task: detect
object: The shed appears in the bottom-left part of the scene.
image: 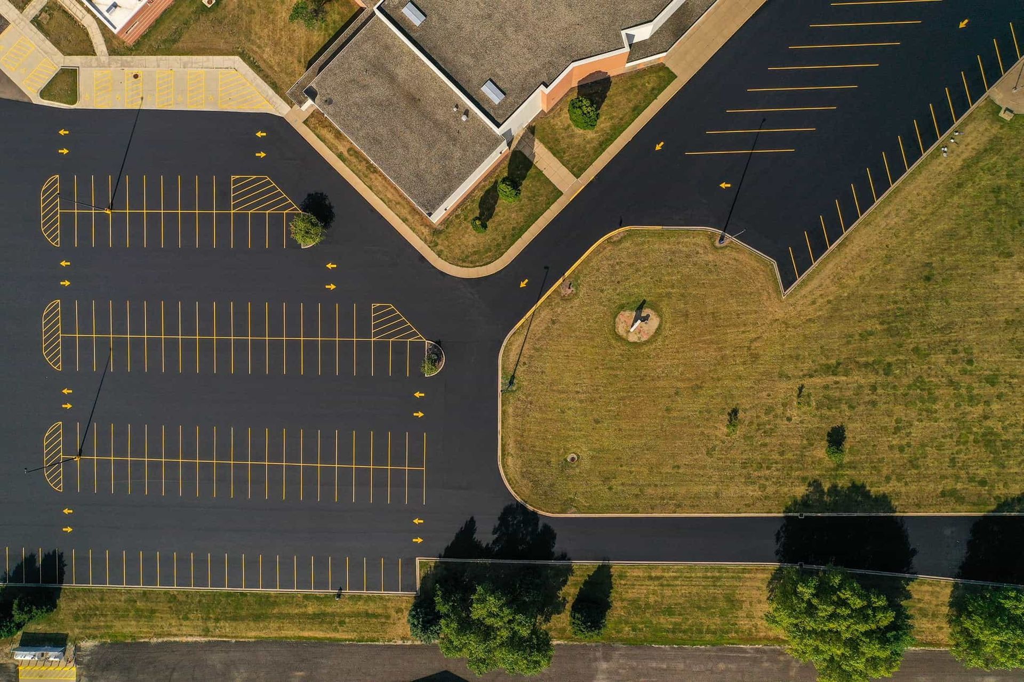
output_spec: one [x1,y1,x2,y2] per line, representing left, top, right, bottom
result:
[11,647,64,662]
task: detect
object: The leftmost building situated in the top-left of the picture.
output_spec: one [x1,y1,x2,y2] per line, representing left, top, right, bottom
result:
[82,0,172,44]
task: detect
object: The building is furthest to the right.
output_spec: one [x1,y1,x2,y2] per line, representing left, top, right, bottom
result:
[286,0,722,224]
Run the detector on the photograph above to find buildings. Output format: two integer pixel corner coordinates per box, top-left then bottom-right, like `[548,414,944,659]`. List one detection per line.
[82,0,172,44]
[11,647,64,662]
[286,0,722,224]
